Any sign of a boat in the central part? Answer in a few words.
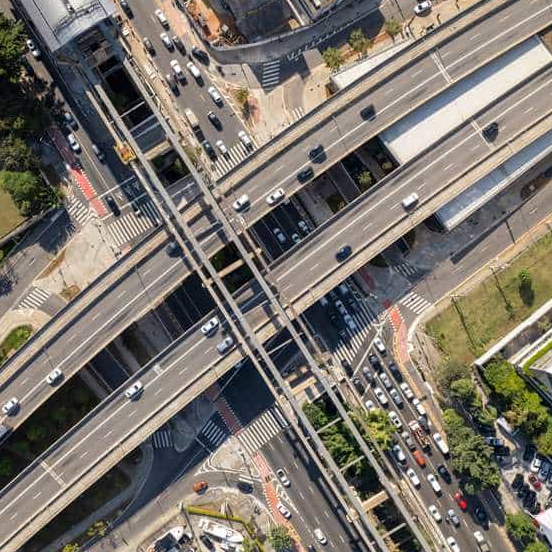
No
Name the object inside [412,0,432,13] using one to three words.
vehicle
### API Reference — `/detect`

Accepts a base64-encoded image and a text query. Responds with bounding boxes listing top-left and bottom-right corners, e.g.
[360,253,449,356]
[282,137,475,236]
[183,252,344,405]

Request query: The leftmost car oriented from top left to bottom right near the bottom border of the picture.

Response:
[200,533,214,551]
